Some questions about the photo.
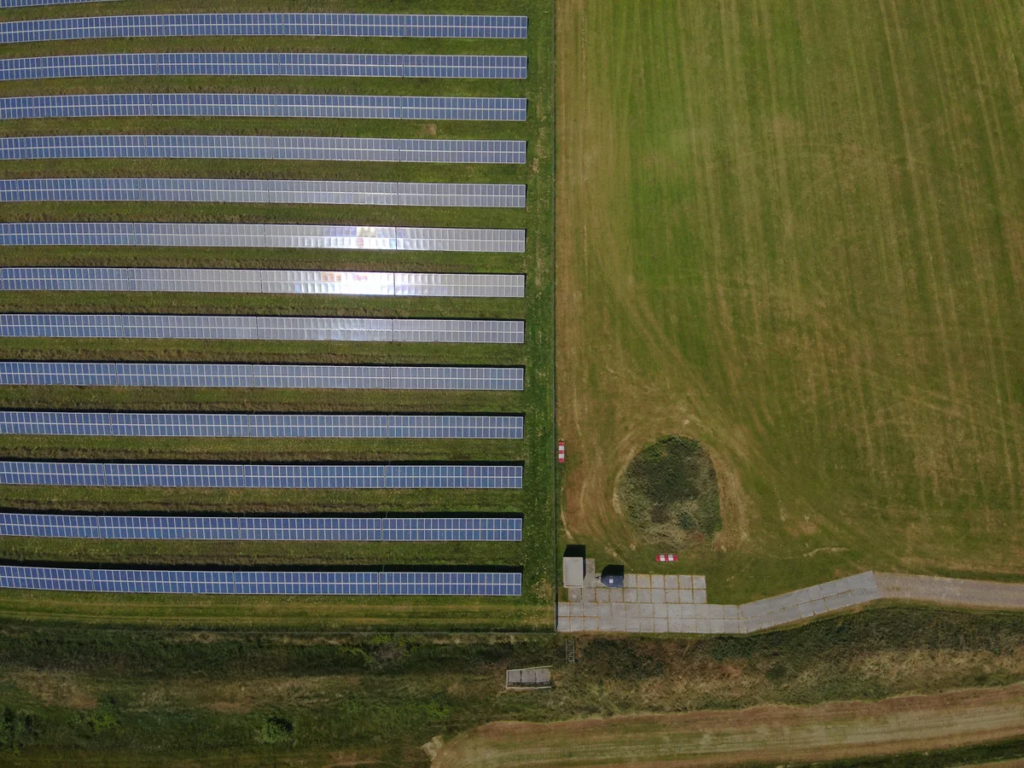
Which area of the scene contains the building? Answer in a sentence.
You can find the building in the bottom area of the picture.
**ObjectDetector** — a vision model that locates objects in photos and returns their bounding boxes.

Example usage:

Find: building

[562,557,583,587]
